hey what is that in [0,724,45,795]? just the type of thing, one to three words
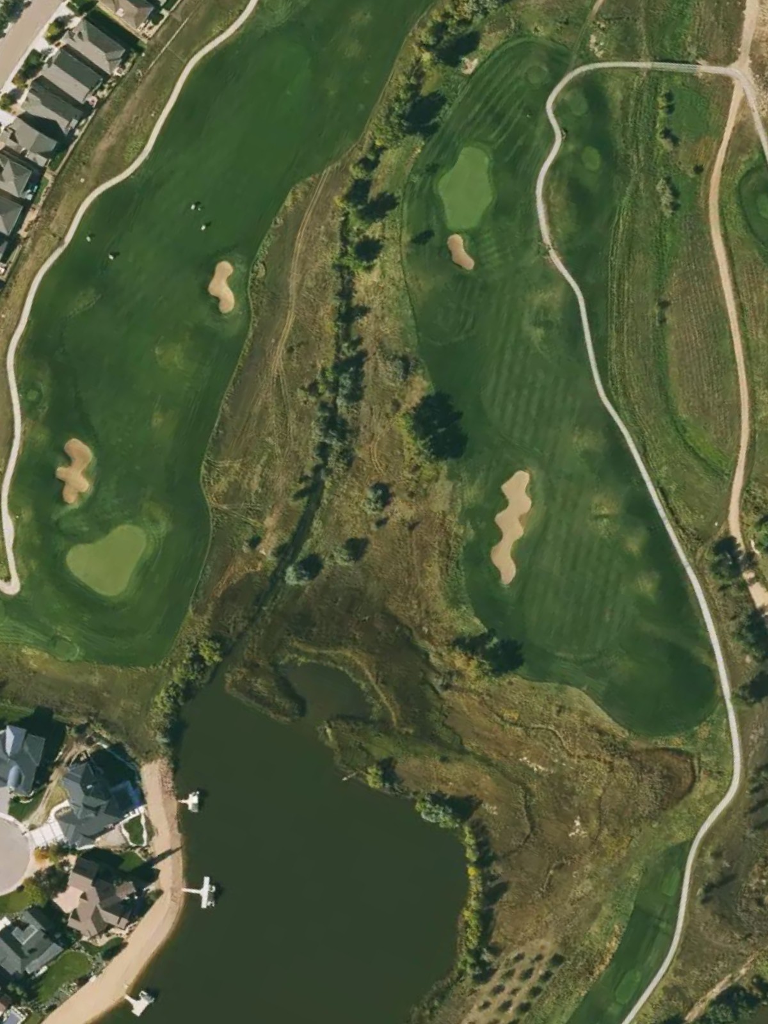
house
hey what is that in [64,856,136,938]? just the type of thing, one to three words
house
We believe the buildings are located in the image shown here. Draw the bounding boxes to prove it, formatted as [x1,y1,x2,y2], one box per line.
[0,915,65,981]
[0,153,35,198]
[64,856,136,938]
[97,0,150,27]
[0,194,24,235]
[0,115,59,168]
[18,86,82,136]
[0,232,13,260]
[57,754,131,852]
[38,50,101,103]
[62,19,125,77]
[0,724,45,795]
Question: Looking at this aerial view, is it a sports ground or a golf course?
golf course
